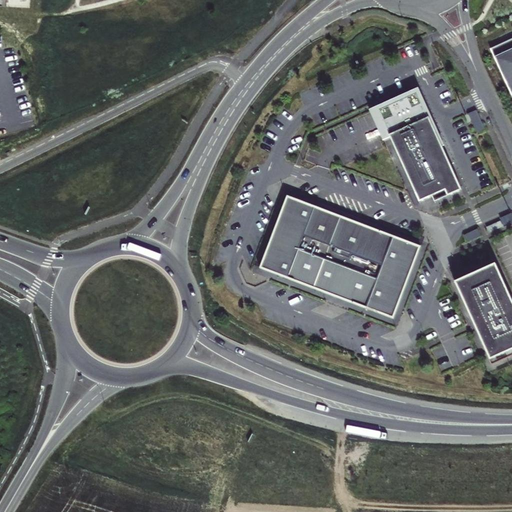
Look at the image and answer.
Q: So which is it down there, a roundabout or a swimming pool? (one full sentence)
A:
Looking from above, you can make out a roundabout.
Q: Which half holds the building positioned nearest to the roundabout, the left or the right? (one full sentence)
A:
The building positioned nearest to the roundabout sits on the right side.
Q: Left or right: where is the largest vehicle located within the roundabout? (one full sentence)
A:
The largest vehicle located within the roundabout sits on the left side.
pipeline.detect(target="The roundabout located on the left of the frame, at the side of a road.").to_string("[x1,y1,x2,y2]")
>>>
[50,236,202,388]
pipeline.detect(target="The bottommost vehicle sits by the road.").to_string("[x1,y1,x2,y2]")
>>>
[346,426,388,440]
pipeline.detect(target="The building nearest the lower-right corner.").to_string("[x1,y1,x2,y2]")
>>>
[455,262,512,373]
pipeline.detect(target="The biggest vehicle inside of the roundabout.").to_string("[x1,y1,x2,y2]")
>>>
[122,240,162,259]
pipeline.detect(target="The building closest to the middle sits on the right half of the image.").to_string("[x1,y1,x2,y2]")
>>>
[260,195,423,326]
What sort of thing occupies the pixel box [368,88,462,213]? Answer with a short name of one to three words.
building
